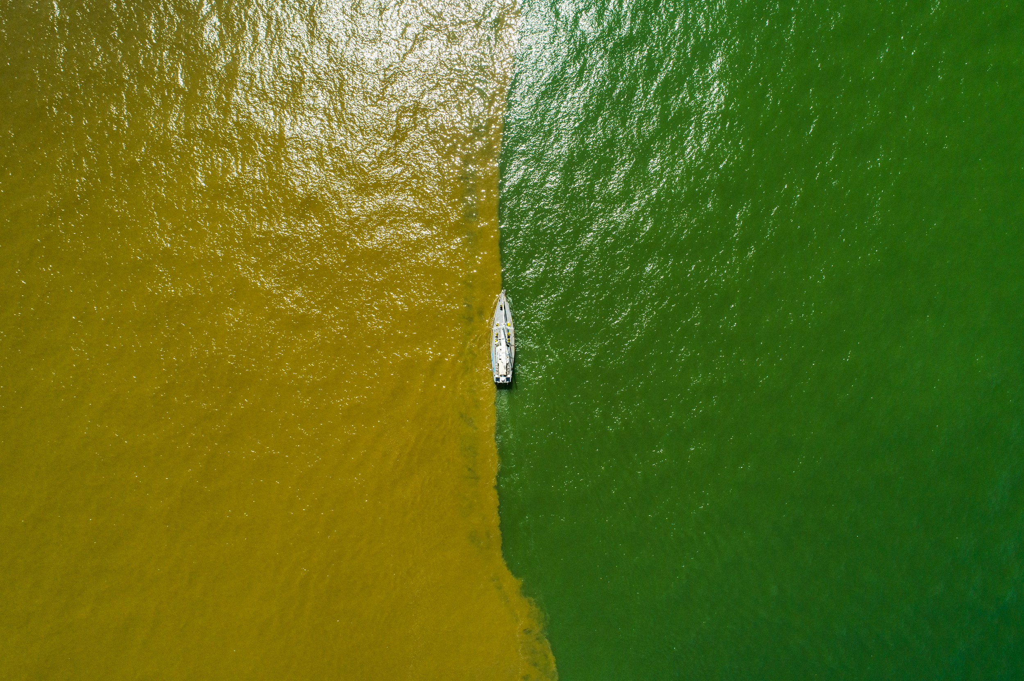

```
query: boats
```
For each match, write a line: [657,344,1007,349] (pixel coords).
[490,289,515,385]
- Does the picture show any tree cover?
No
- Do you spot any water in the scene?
Yes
